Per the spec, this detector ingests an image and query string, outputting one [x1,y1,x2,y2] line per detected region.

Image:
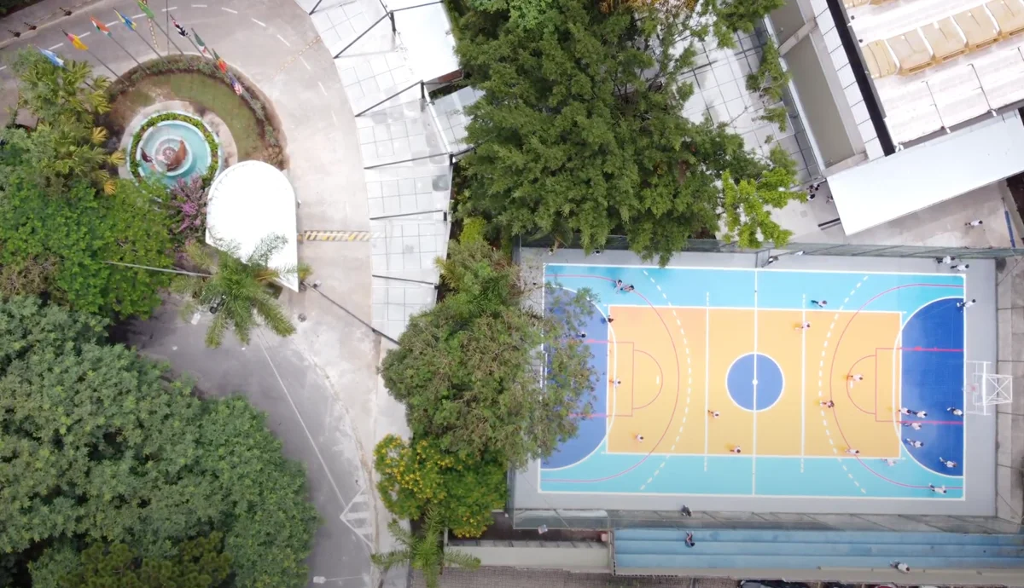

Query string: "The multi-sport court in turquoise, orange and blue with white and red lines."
[516,248,998,517]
